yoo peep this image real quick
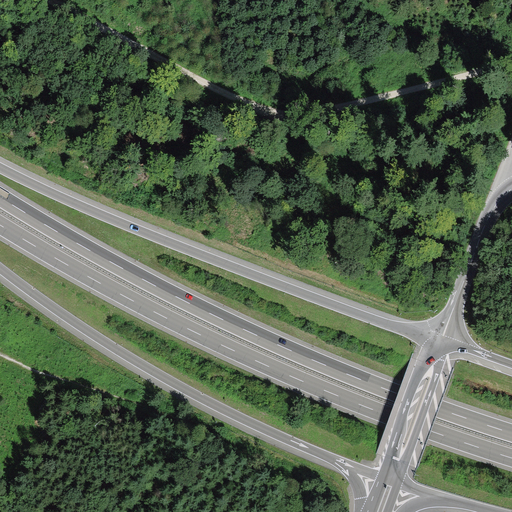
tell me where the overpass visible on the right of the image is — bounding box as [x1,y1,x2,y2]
[375,346,456,476]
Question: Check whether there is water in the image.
No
